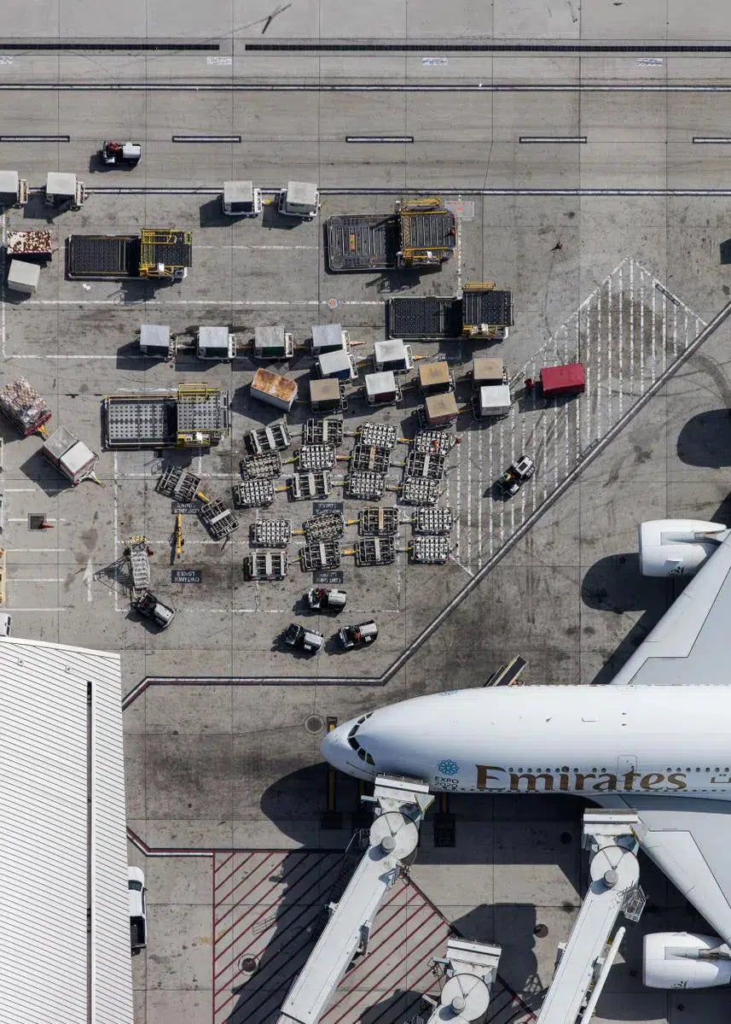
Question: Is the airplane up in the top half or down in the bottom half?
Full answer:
The airplane sits in the bottom half of the picture.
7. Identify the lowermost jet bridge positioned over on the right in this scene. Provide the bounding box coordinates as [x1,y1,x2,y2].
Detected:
[421,940,501,1024]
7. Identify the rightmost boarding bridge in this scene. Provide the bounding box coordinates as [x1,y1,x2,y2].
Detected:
[526,810,646,1024]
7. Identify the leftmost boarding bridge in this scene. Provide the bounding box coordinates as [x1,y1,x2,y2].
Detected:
[276,776,434,1024]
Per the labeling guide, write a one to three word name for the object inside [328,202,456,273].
work vehicle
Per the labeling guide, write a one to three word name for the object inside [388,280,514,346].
work vehicle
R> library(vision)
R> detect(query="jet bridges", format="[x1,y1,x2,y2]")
[276,776,434,1024]
[526,810,646,1024]
[421,940,501,1024]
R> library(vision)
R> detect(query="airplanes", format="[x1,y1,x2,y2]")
[321,518,731,990]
